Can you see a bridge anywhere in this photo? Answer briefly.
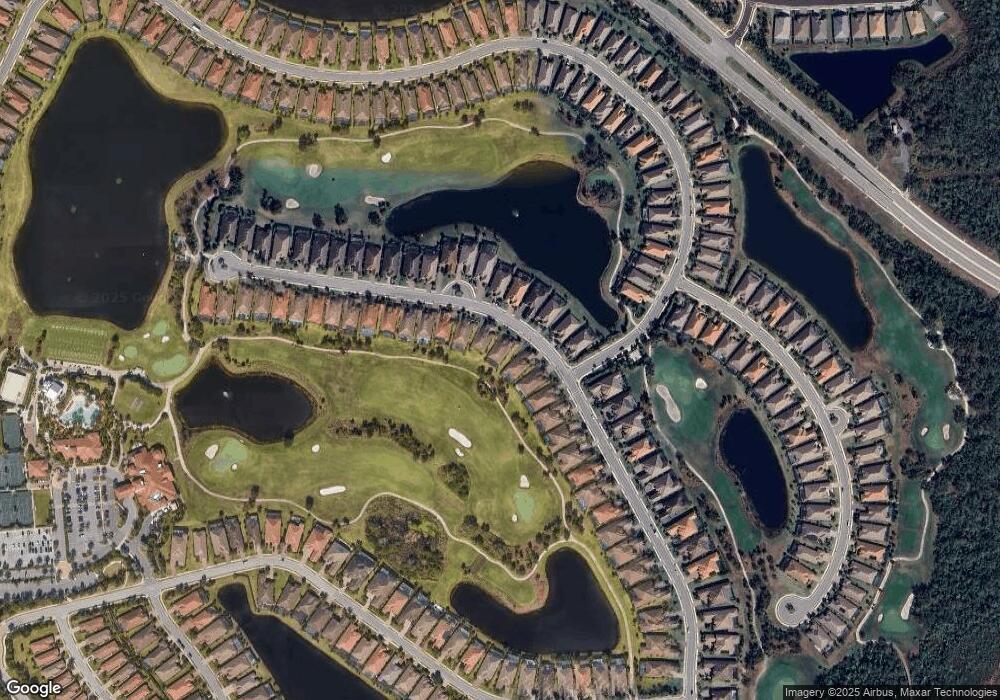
No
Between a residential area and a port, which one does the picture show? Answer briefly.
residential area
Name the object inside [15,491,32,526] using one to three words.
tennis court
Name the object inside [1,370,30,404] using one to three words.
sports court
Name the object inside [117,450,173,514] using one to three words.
building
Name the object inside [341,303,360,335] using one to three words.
house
